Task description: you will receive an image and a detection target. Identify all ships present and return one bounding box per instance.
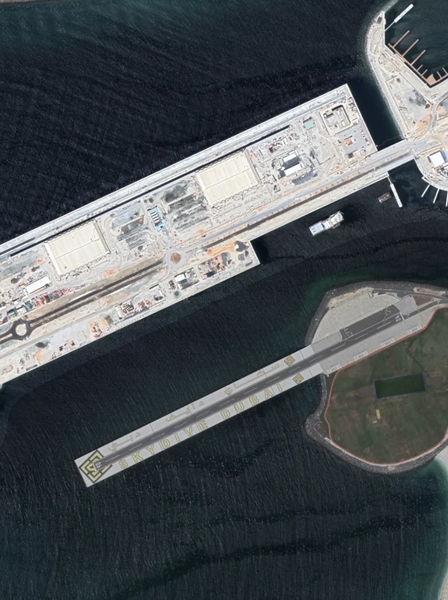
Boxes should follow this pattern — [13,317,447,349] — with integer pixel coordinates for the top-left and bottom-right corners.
[309,211,344,235]
[378,192,391,203]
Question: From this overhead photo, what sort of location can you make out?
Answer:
port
